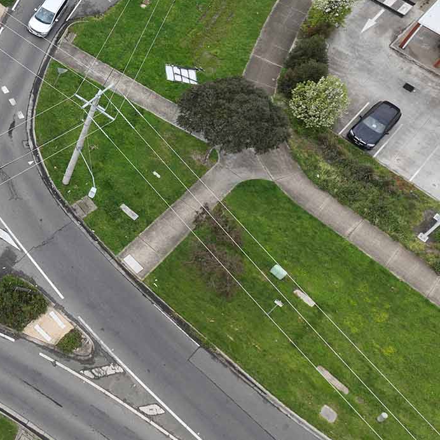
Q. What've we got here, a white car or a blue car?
white car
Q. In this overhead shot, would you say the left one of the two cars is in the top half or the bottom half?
top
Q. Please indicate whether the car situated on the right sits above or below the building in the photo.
below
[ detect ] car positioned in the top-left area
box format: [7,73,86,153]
[29,0,70,38]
